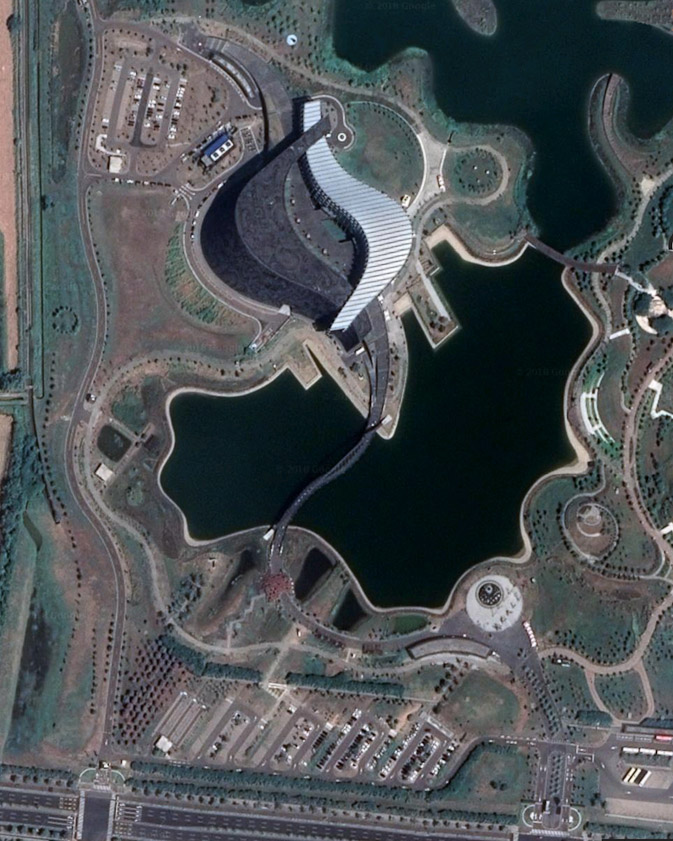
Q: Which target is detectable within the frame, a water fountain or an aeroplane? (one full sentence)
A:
Visible in the photo is a water fountain.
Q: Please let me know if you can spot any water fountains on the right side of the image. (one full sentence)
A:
Yes, a water fountain appears on the right side of the image.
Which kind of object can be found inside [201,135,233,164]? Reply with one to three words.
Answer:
building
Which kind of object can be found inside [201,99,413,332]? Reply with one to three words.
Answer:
building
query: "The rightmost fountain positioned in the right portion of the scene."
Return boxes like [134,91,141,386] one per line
[476,579,505,608]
